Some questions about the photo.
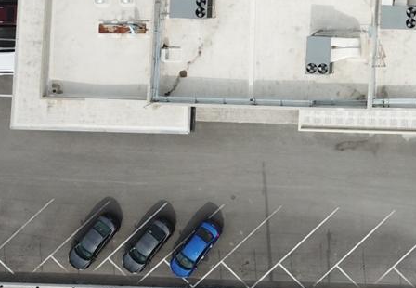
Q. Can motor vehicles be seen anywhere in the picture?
Yes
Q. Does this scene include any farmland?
No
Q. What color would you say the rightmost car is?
blue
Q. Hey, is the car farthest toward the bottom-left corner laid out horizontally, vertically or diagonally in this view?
diagonally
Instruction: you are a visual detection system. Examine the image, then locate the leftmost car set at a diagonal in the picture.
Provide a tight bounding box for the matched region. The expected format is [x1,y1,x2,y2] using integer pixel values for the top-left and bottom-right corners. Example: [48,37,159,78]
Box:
[70,209,124,271]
